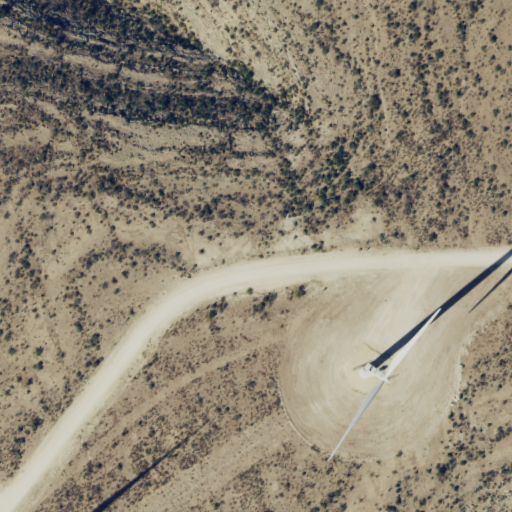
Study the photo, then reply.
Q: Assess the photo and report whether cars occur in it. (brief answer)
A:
No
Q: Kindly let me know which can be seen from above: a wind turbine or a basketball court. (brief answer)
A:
wind turbine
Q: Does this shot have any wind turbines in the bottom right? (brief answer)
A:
Yes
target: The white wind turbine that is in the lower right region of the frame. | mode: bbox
[332,308,440,461]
